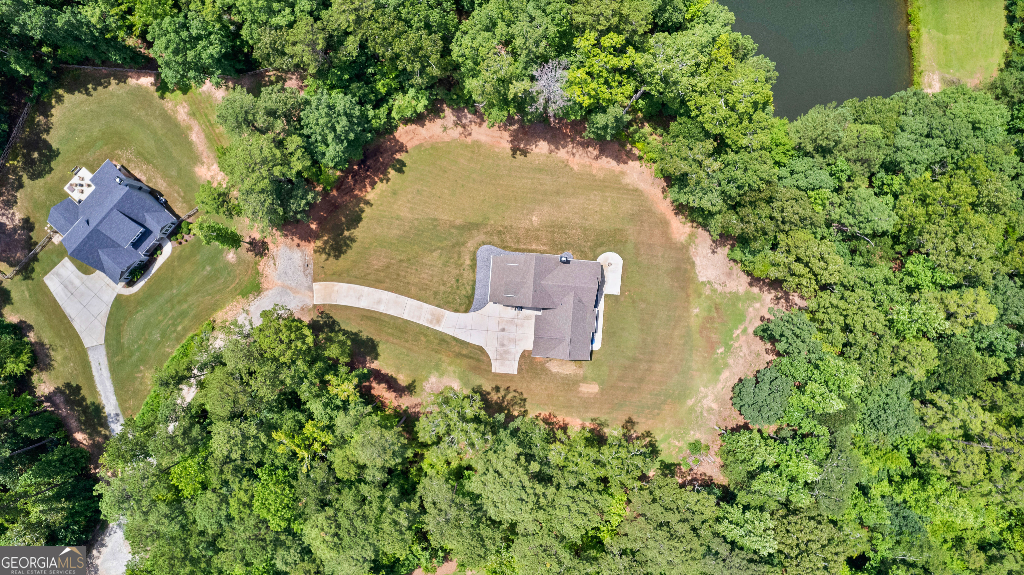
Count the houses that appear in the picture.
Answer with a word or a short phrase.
2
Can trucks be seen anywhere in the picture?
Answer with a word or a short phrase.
No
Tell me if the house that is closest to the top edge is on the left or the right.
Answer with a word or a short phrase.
left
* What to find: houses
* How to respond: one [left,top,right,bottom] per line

[48,159,181,287]
[488,252,601,361]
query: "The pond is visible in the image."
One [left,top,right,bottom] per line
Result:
[718,0,915,115]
